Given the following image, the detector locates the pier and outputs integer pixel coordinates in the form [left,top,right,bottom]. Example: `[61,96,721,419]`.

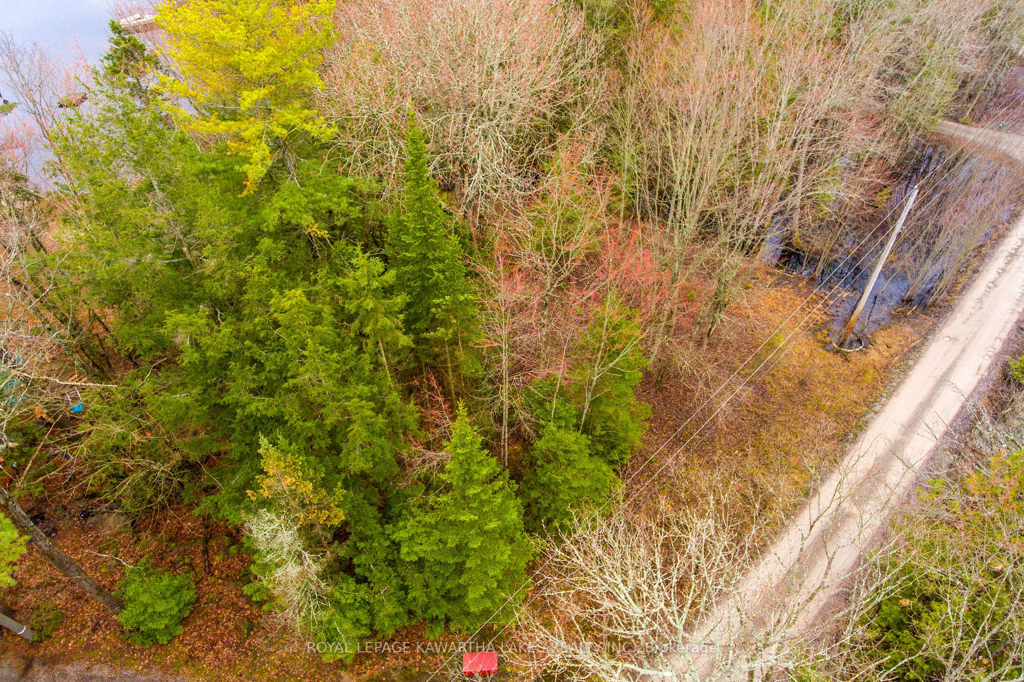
[110,5,183,33]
